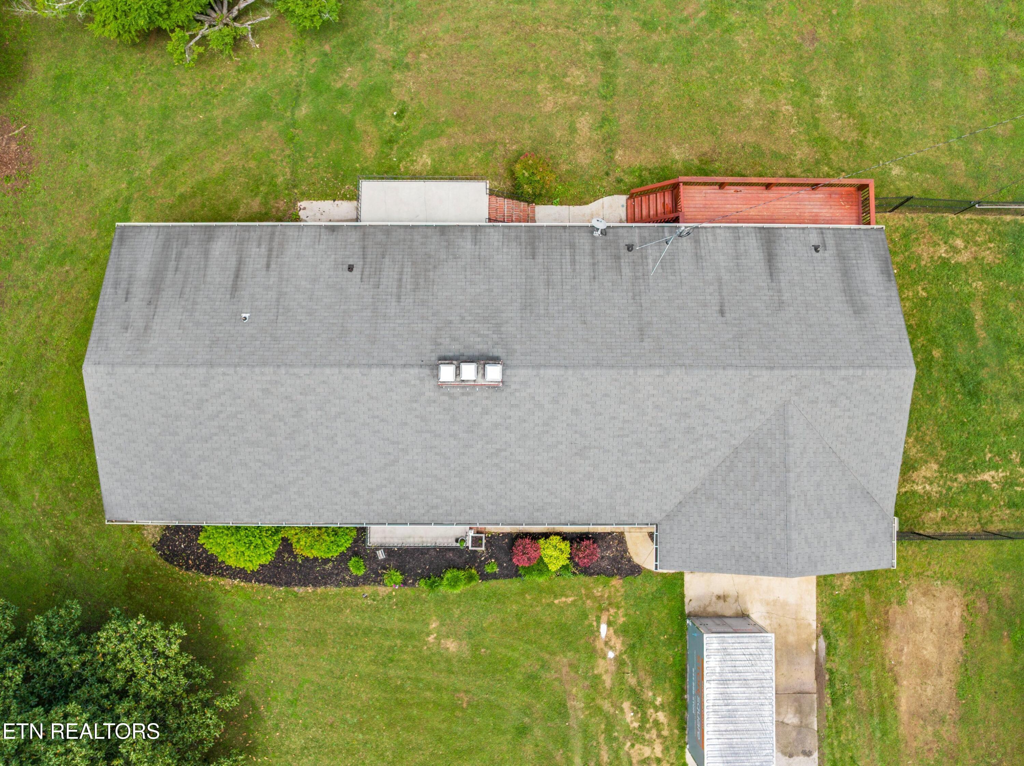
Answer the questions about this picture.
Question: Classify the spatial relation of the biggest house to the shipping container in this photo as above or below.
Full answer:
Relative to the shipping container, the biggest house lies above it.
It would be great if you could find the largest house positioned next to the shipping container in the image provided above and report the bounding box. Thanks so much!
[82,222,916,578]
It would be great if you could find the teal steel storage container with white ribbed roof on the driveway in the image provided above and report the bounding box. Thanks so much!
[687,617,775,766]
